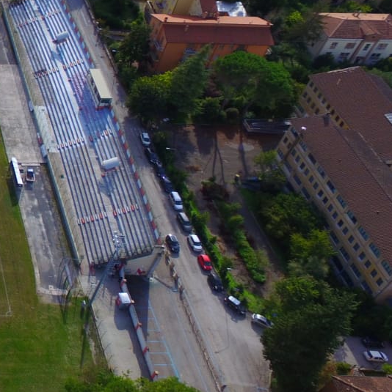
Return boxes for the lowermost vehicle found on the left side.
[108,291,138,309]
